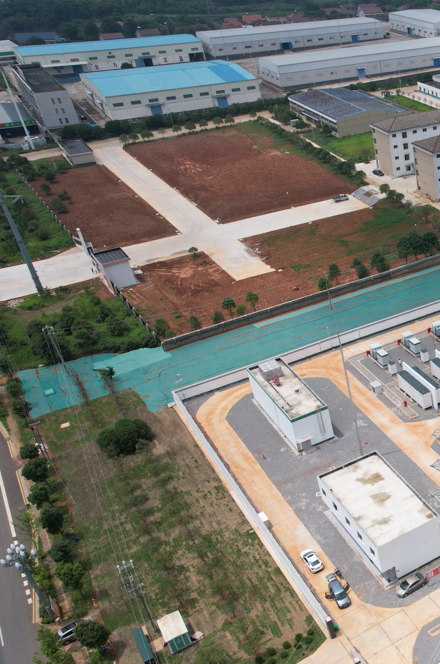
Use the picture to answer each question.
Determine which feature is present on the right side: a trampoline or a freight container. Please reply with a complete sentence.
You can see a freight container on the right side.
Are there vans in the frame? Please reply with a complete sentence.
Yes, the image includes a van.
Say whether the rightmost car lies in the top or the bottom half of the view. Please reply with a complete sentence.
The rightmost car sits in the bottom half of the picture.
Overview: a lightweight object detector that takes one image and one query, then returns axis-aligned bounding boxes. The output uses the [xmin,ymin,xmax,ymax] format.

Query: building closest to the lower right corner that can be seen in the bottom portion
[316,449,440,596]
